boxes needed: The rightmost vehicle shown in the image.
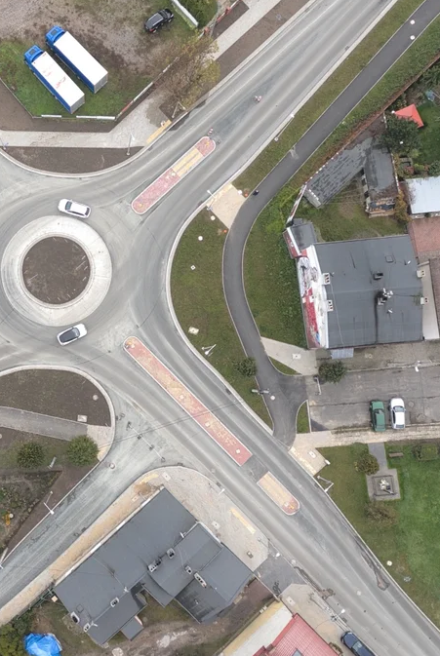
[389,398,407,429]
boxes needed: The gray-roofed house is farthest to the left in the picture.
[52,486,253,646]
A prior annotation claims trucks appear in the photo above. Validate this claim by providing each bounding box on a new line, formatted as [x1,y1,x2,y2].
[20,41,84,112]
[41,23,107,92]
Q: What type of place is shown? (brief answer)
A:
residential area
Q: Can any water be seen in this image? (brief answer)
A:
No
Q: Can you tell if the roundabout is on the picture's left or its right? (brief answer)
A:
left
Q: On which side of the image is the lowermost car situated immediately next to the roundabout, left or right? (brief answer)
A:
left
